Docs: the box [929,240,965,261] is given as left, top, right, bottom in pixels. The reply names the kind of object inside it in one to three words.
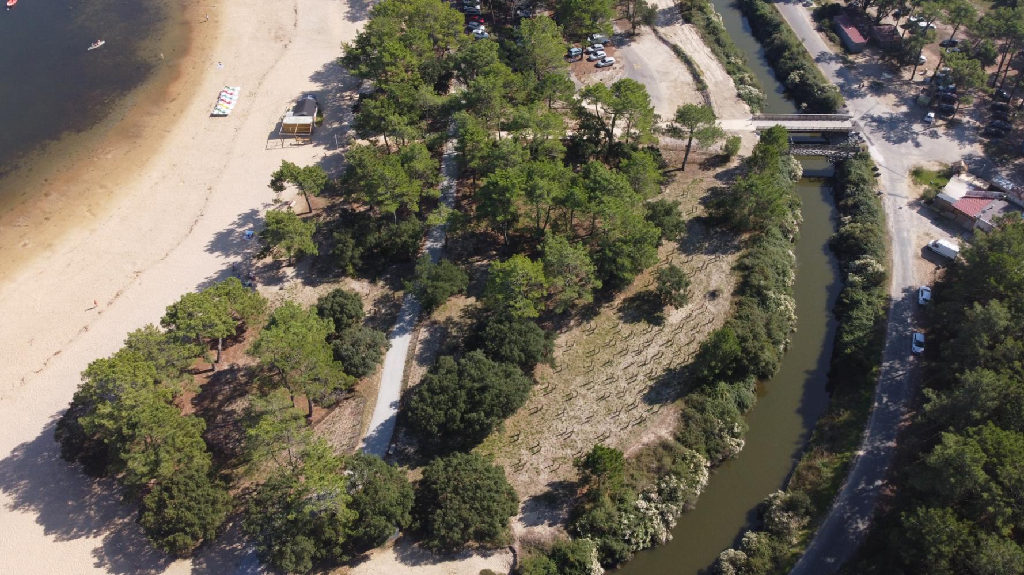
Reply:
vehicle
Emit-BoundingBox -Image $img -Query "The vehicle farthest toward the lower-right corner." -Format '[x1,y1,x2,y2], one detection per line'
[913,330,927,351]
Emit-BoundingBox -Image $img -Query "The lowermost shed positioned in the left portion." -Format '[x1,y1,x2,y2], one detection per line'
[279,98,324,148]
